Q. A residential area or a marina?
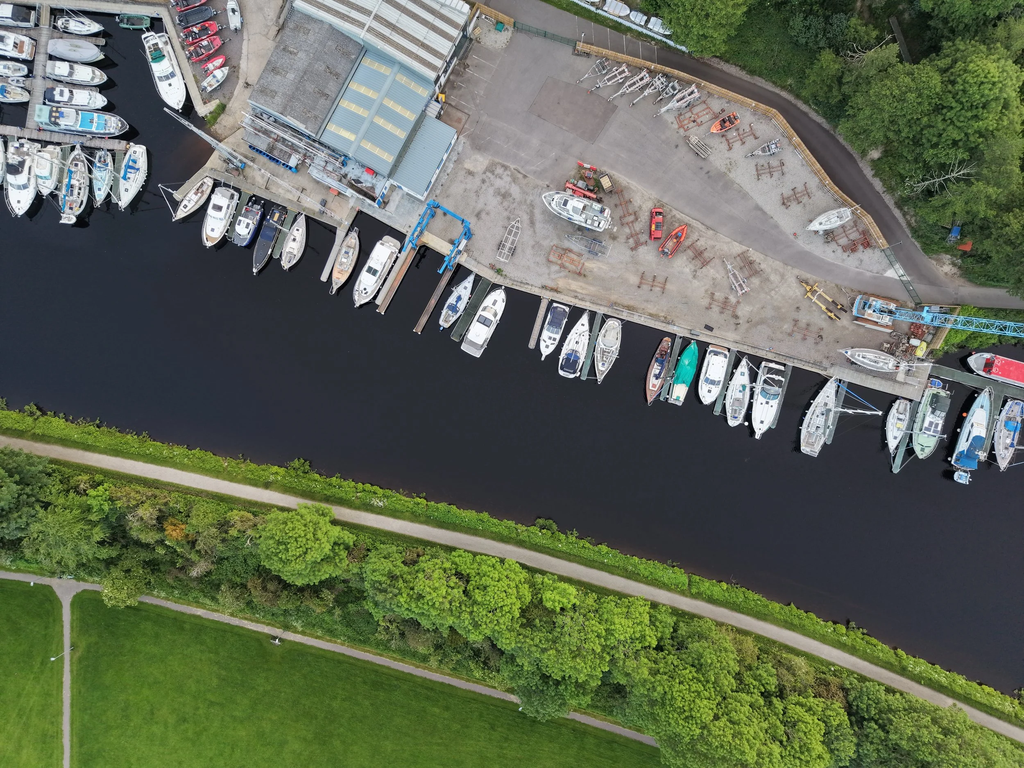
marina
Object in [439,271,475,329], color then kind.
white boat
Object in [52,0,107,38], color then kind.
white boat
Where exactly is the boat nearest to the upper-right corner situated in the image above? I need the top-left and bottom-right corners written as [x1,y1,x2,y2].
[809,204,868,232]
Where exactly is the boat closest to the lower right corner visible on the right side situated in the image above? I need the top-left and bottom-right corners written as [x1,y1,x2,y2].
[950,472,972,484]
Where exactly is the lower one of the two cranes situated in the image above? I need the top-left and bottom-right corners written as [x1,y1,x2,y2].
[851,289,1024,338]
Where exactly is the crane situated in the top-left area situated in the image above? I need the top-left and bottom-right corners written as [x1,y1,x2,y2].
[168,106,356,234]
